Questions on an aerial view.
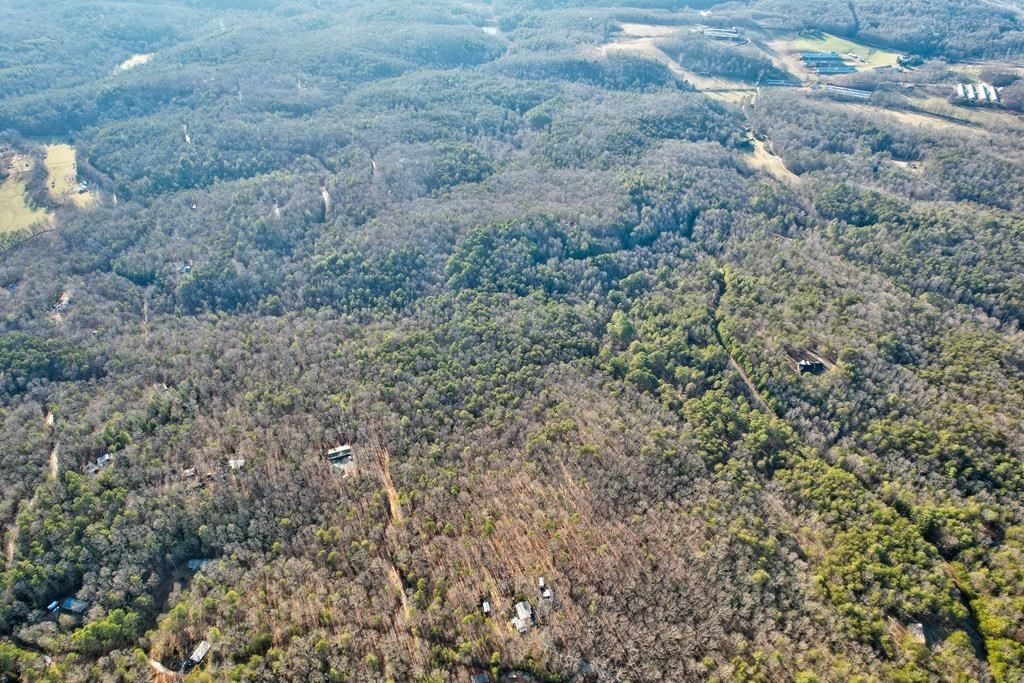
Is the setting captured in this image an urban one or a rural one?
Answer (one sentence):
It looks rural.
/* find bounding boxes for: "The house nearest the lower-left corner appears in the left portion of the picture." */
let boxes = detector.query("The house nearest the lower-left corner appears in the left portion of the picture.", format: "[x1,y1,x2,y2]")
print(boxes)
[56,594,88,615]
